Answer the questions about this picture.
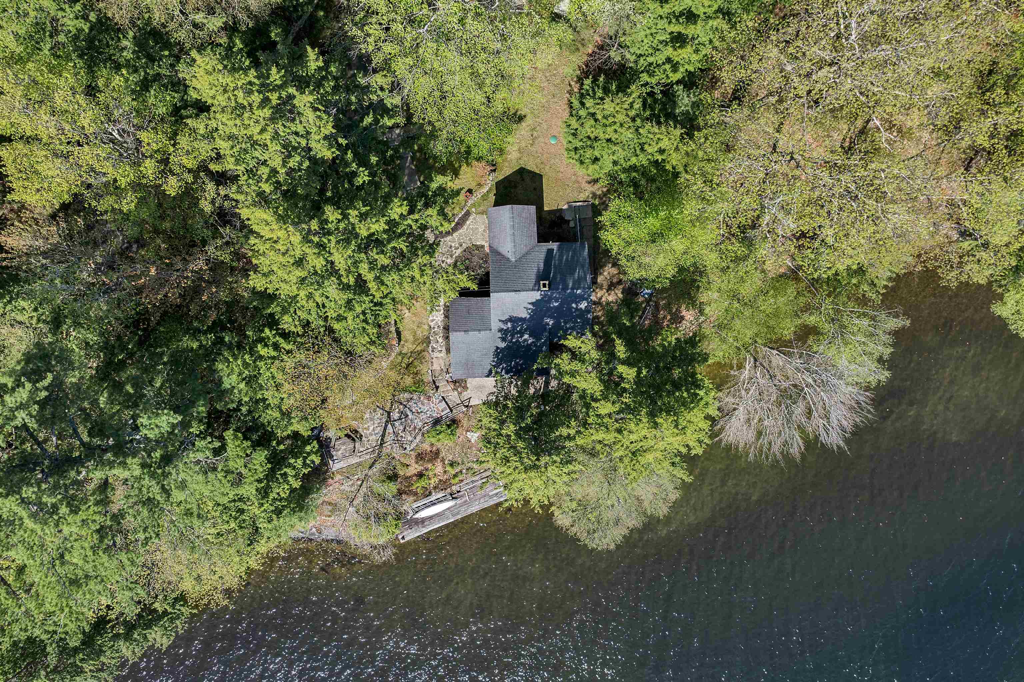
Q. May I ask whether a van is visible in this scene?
No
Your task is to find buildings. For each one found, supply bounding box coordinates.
[449,203,593,380]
